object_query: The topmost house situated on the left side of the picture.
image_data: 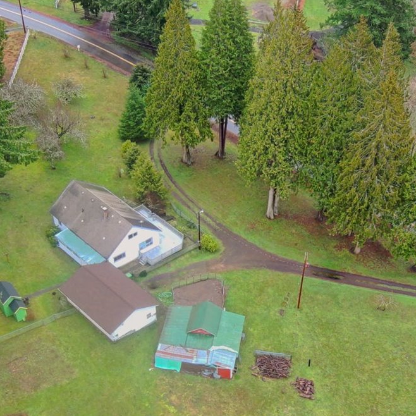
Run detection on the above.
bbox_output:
[50,180,184,270]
